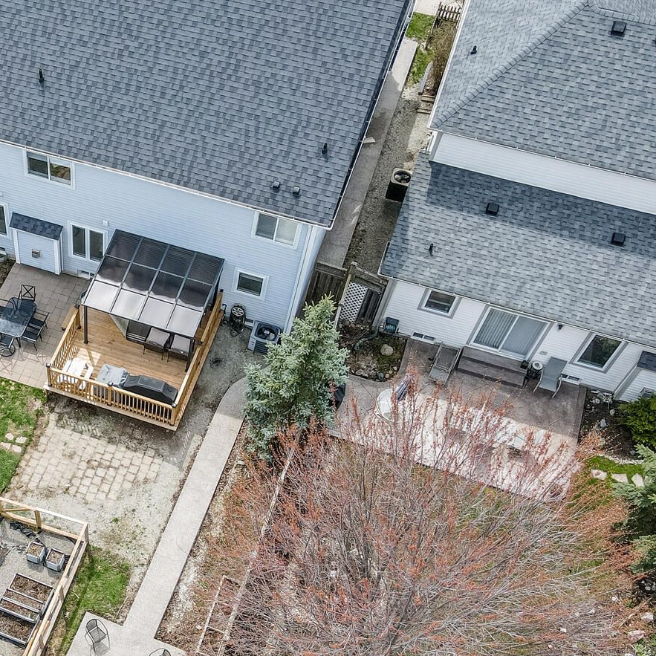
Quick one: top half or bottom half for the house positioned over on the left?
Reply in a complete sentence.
The house positioned over on the left is in the top half of the image.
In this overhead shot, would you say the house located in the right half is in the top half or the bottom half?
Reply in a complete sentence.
Seen from above, the house located in the right half lies in the top half of the view.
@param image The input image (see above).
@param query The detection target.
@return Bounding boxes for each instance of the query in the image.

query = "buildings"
[374,0,656,412]
[0,0,410,338]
